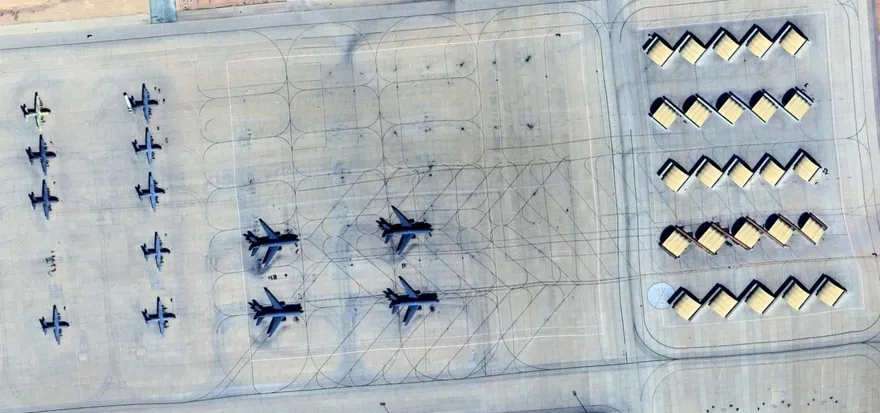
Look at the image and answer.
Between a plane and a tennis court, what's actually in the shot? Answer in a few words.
plane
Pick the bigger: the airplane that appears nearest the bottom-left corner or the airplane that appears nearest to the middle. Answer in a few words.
the airplane that appears nearest to the middle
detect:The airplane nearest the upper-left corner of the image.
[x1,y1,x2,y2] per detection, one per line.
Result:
[25,97,50,131]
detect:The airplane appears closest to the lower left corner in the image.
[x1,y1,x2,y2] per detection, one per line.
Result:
[44,311,69,344]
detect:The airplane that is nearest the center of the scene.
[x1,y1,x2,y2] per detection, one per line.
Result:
[382,210,432,256]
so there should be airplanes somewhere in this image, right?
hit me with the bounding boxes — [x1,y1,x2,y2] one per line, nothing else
[44,311,69,344]
[144,238,169,271]
[33,185,58,219]
[30,142,55,175]
[25,97,50,131]
[139,178,164,211]
[136,132,160,166]
[382,210,432,256]
[148,303,173,337]
[249,219,299,265]
[389,282,439,327]
[254,291,303,337]
[133,90,157,124]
